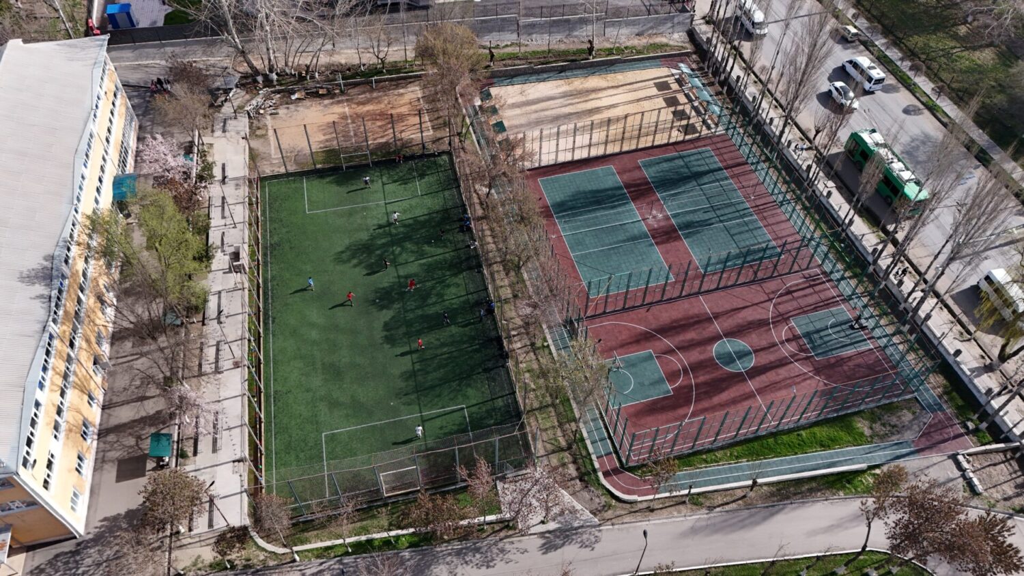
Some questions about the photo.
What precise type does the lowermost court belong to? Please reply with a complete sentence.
Looking closely, the lowermost court is a basketball court.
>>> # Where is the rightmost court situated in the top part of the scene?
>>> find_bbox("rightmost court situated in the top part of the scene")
[619,133,821,292]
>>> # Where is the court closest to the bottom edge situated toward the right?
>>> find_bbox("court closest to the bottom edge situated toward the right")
[570,268,912,464]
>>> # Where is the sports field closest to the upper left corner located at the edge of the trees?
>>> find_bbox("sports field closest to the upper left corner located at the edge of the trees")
[263,84,437,158]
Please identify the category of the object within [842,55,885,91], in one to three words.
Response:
vehicle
